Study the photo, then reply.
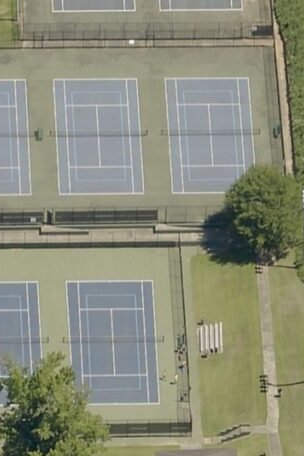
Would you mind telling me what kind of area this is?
sports ground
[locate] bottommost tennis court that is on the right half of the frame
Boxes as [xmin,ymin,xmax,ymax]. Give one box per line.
[165,78,256,193]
